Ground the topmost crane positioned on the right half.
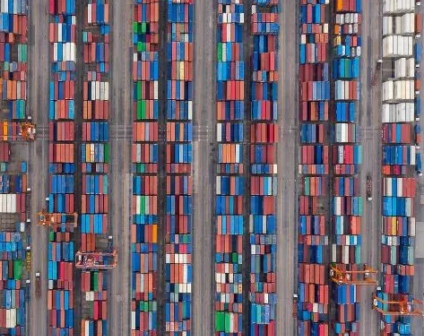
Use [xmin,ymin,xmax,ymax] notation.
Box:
[327,260,378,285]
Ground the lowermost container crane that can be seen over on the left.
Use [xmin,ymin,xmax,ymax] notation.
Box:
[75,244,118,270]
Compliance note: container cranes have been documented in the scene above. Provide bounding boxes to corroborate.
[327,260,378,285]
[37,207,80,230]
[0,122,38,145]
[368,289,423,316]
[75,244,118,270]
